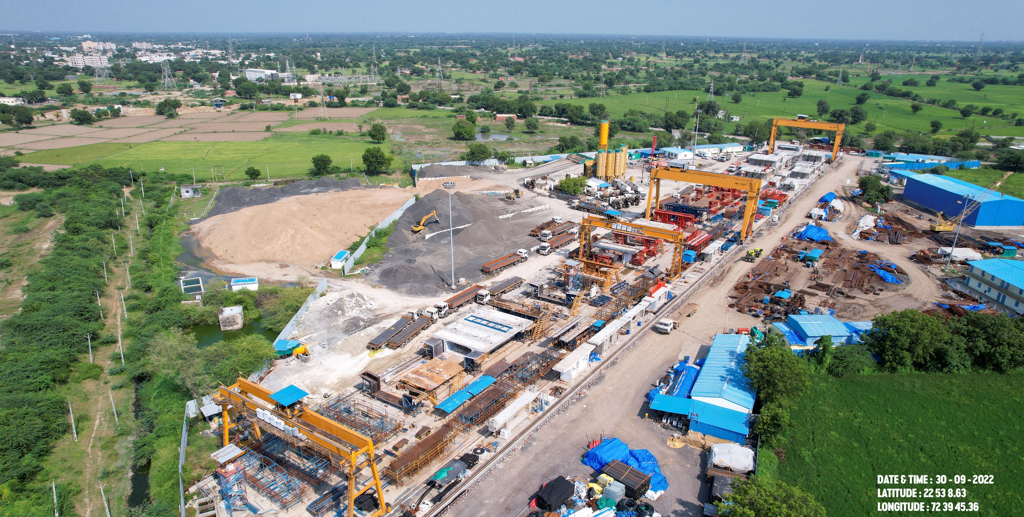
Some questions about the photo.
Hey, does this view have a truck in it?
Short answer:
Yes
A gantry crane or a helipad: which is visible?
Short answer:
gantry crane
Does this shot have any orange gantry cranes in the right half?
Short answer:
Yes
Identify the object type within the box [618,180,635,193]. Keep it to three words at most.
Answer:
vehicle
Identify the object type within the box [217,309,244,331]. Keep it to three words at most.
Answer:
water tank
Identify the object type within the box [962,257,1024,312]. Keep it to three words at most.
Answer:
building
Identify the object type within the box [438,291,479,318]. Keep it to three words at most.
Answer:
truck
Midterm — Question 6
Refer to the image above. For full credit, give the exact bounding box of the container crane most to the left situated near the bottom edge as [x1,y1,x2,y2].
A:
[207,381,397,517]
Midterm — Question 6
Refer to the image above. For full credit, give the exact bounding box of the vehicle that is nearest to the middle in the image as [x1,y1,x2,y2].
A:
[488,251,529,272]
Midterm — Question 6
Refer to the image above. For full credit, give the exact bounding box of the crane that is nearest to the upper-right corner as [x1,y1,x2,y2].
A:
[929,171,1011,232]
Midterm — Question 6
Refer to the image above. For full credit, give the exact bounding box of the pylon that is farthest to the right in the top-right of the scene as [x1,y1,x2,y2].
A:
[975,35,987,69]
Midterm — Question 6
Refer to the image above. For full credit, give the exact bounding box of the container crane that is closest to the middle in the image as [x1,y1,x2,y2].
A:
[574,211,687,277]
